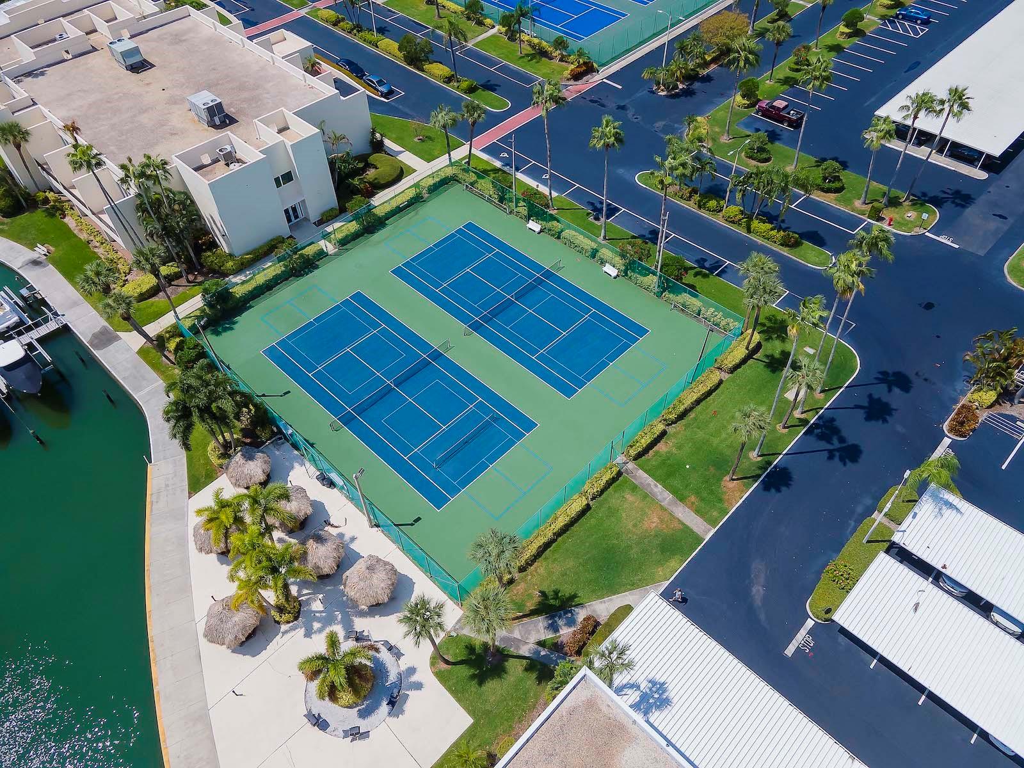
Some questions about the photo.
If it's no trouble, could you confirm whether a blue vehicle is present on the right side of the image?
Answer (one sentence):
Yes, a blue vehicle can be seen on the right side of the image.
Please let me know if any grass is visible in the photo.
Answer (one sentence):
Yes, there's grass in this view.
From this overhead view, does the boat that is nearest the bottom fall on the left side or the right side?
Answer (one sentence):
The boat that is nearest the bottom sits on the left side.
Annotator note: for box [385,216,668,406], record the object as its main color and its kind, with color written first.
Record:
blue tennis court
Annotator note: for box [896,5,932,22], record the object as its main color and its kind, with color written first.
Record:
blue car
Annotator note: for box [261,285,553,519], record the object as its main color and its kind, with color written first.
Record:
blue tennis court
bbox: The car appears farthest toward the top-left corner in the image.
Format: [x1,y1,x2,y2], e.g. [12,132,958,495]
[338,56,368,76]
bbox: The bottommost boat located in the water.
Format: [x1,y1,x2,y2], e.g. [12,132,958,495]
[0,333,44,398]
